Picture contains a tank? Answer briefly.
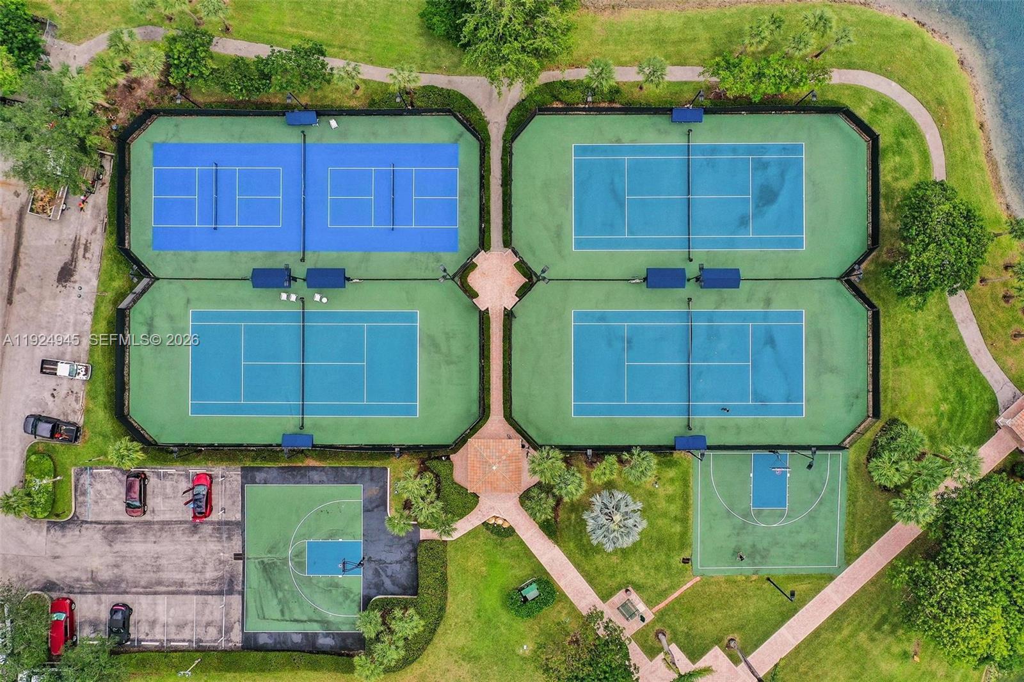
No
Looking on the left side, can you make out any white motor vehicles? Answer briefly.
Yes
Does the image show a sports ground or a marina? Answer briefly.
sports ground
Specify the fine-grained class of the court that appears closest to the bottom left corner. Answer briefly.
basketball court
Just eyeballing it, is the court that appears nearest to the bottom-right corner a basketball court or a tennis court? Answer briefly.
basketball court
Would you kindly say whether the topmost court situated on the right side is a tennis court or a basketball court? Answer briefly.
tennis court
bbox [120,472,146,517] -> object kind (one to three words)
car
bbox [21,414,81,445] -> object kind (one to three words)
truck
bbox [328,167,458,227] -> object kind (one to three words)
sports court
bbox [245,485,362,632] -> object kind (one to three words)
basketball court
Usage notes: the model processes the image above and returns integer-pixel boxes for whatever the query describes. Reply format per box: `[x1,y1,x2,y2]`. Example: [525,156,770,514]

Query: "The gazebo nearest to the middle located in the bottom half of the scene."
[468,438,522,493]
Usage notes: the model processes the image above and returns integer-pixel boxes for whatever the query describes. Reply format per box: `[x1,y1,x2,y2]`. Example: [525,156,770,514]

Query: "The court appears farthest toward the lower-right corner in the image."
[693,451,847,575]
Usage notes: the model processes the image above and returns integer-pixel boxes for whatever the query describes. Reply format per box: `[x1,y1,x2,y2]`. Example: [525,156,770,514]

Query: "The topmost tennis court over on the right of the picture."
[512,114,868,279]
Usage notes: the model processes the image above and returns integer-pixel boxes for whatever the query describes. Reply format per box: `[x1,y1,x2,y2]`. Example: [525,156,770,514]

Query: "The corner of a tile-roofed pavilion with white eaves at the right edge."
[983,382,1024,464]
